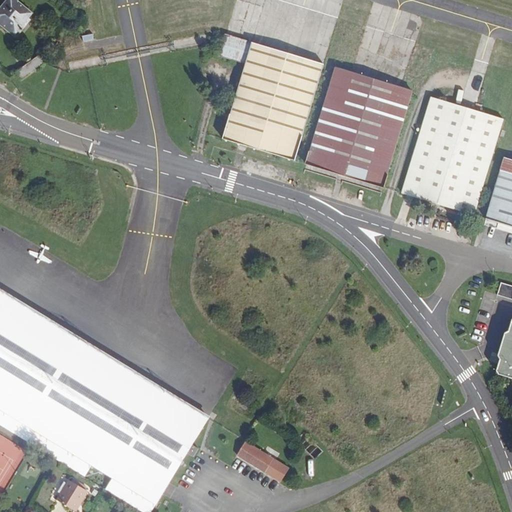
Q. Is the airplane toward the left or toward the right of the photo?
left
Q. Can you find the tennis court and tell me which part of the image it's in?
bottom left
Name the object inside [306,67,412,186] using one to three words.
hangar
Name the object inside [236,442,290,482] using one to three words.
building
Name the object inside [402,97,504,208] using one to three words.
hangar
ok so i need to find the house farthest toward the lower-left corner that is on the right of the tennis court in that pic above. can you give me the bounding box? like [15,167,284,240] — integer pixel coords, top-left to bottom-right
[54,476,90,512]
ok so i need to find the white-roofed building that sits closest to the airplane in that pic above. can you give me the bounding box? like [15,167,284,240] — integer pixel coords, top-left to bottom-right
[0,287,209,512]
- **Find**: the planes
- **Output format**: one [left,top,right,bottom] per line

[28,244,52,264]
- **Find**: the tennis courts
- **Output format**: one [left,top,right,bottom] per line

[0,438,24,488]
